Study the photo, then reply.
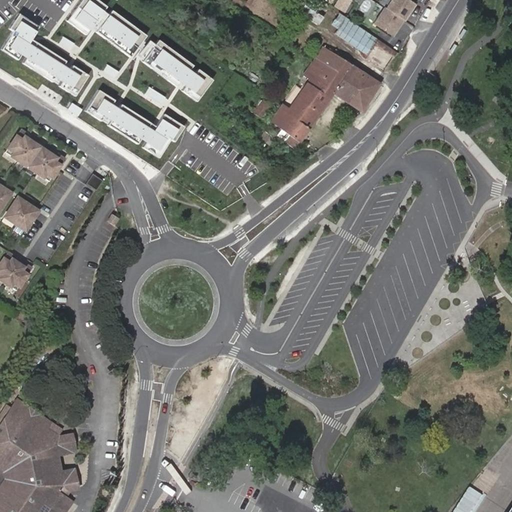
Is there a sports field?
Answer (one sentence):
No, there isn't any sports field down there.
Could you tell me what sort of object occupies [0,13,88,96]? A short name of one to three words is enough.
building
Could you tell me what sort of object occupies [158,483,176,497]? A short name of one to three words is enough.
vehicle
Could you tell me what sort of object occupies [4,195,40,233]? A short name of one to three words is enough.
house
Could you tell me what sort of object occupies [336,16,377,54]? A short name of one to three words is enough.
building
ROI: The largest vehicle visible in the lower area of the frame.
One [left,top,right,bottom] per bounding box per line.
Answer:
[161,459,192,494]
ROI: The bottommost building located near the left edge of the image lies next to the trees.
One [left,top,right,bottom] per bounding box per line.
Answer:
[0,398,80,512]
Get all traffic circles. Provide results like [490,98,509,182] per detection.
[116,236,243,369]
